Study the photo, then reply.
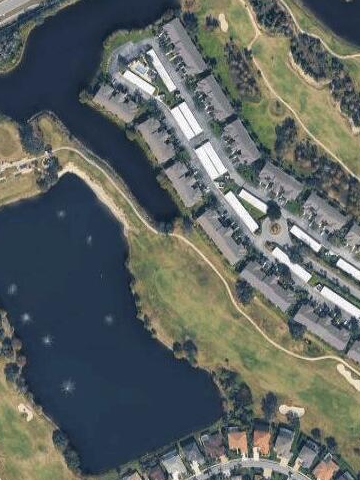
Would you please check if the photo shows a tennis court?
No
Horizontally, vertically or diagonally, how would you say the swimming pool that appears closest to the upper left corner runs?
diagonally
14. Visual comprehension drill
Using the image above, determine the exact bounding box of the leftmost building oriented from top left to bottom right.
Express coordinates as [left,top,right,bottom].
[93,84,138,123]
